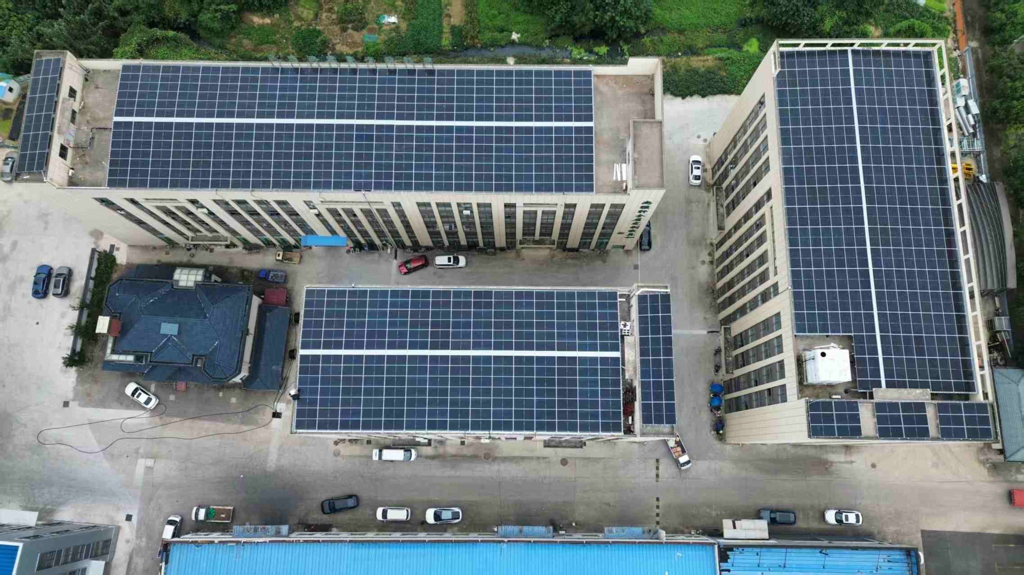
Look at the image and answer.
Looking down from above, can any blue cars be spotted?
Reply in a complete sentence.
Yes, there is a blue car in the image.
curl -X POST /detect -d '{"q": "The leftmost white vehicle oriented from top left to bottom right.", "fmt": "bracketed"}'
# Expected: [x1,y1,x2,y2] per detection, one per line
[123,378,164,414]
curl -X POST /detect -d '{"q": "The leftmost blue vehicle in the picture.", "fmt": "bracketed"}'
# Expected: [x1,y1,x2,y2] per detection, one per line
[31,264,55,300]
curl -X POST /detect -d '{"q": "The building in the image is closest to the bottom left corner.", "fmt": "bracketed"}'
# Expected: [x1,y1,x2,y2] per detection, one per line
[0,511,120,575]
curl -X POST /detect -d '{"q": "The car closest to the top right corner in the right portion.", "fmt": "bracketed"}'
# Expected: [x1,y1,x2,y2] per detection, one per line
[687,156,703,187]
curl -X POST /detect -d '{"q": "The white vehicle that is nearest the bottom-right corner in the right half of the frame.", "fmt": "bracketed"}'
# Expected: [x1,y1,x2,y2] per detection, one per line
[823,508,863,526]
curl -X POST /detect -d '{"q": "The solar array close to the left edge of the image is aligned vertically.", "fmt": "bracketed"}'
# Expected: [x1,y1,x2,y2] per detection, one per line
[17,57,61,172]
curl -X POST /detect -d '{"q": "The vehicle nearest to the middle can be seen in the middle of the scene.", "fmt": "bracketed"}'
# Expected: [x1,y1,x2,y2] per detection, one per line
[434,254,467,270]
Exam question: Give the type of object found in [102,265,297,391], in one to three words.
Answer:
house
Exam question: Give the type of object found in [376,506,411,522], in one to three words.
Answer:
car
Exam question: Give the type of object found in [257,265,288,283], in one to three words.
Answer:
vehicle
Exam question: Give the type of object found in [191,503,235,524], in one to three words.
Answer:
truck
